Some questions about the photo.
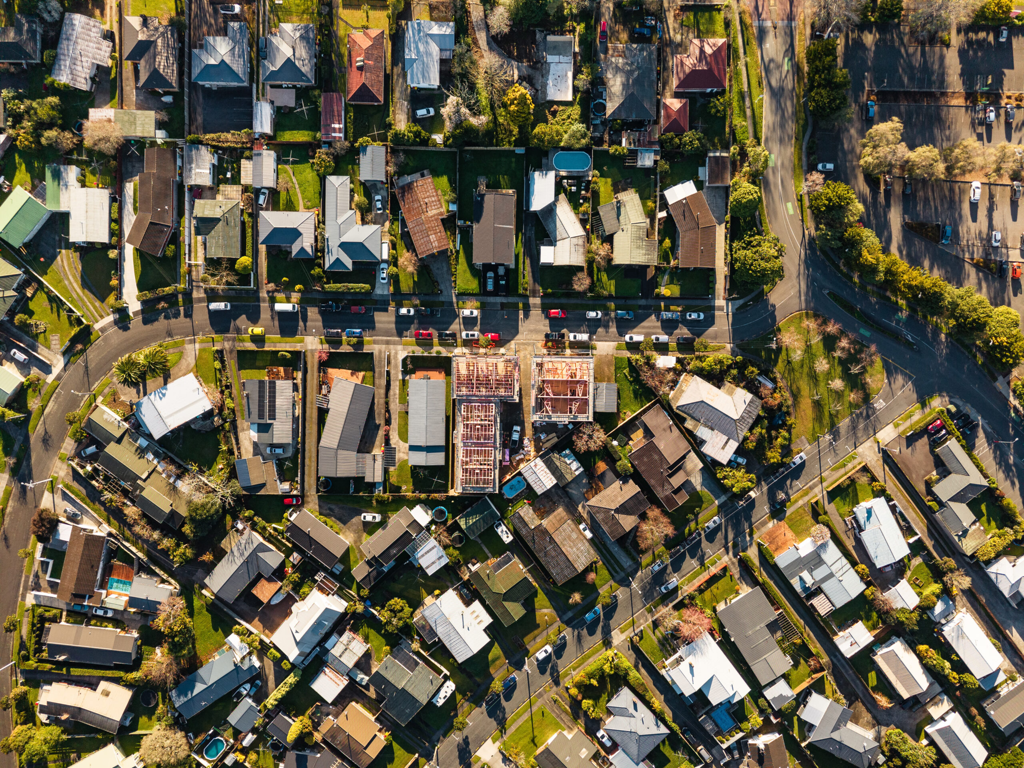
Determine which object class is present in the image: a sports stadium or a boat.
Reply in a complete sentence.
The image shows a boat.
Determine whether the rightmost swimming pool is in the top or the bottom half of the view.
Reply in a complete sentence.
You can find the rightmost swimming pool in the bottom half.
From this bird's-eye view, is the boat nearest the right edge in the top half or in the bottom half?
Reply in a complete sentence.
The boat nearest the right edge is in the bottom half of the image.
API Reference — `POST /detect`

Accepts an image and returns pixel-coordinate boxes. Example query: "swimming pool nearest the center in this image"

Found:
[502,476,526,497]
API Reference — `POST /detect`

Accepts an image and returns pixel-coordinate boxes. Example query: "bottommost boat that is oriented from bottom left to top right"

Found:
[232,682,250,704]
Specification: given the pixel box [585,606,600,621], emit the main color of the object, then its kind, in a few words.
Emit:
blue car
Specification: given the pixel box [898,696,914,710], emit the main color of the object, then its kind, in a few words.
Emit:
black car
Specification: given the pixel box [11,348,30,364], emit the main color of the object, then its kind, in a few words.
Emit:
white car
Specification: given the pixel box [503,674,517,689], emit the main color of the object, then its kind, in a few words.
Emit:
blue car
